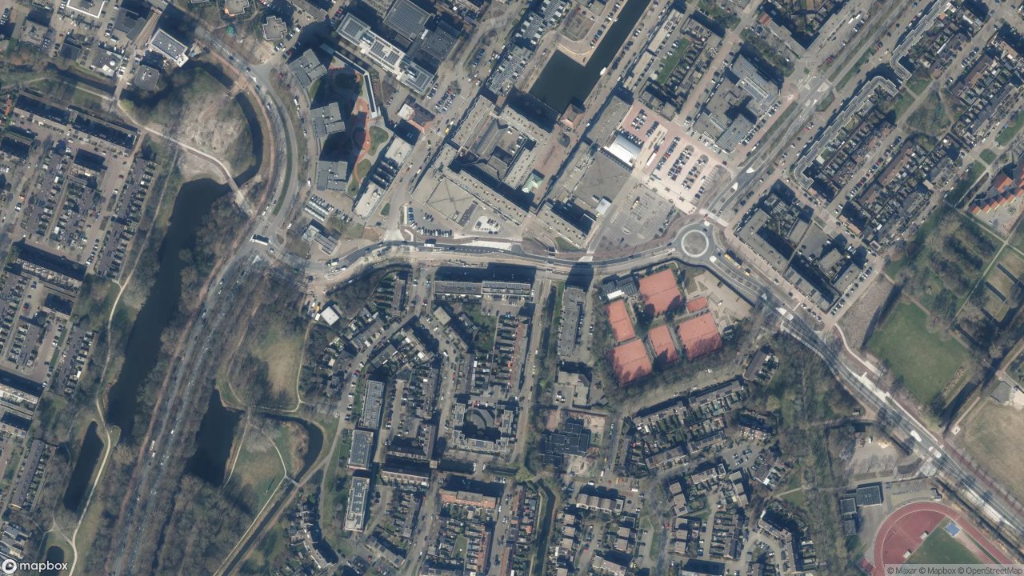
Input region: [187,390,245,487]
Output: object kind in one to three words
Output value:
pond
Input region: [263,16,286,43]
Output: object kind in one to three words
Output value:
building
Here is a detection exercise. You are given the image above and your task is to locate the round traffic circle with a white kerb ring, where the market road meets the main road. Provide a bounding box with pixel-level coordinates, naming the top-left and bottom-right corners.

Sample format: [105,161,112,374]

[674,222,716,264]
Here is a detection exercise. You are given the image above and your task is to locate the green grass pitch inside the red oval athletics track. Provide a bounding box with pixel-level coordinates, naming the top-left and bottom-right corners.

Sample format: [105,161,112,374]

[893,516,1009,576]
